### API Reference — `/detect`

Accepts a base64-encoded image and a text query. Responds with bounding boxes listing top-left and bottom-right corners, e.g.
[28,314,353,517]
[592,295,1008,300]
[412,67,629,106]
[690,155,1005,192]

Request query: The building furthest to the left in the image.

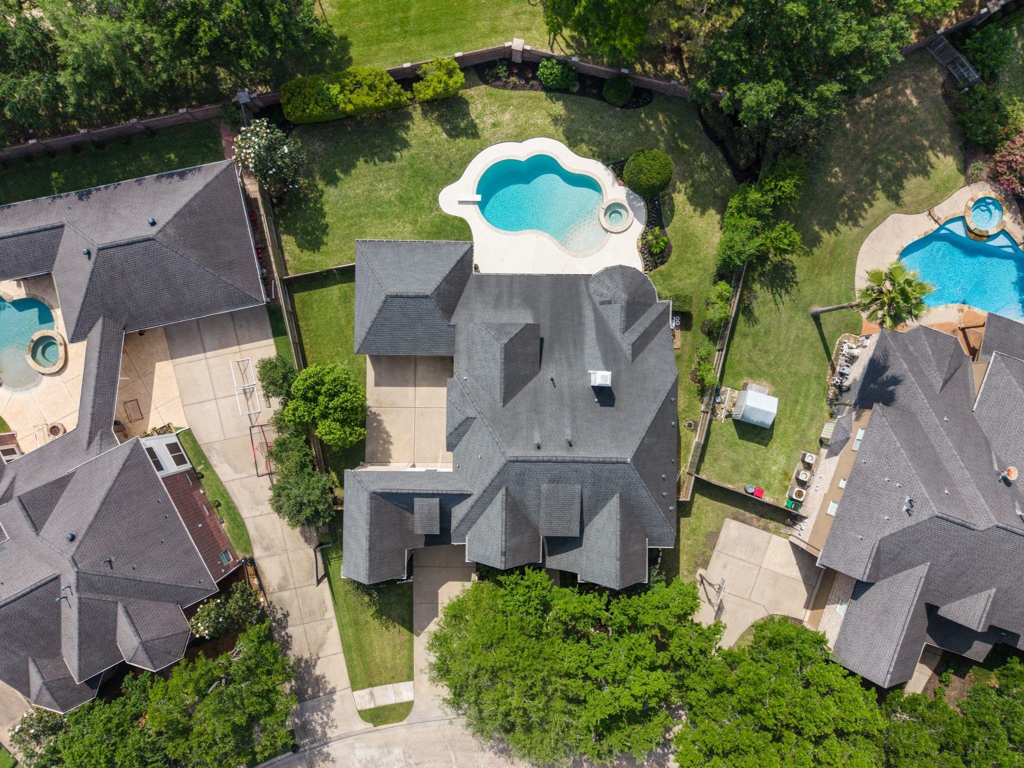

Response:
[0,159,274,715]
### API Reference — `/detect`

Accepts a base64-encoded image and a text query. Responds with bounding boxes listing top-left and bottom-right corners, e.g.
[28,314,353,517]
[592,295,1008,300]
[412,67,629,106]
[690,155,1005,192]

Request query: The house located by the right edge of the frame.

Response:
[783,311,1024,688]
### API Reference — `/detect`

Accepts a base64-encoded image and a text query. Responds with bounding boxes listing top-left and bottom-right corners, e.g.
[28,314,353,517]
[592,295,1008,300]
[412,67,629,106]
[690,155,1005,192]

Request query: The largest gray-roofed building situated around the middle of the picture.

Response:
[340,238,680,590]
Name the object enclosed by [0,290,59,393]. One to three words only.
swimming pool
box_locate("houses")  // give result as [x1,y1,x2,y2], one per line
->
[340,238,680,590]
[0,159,274,715]
[783,311,1024,688]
